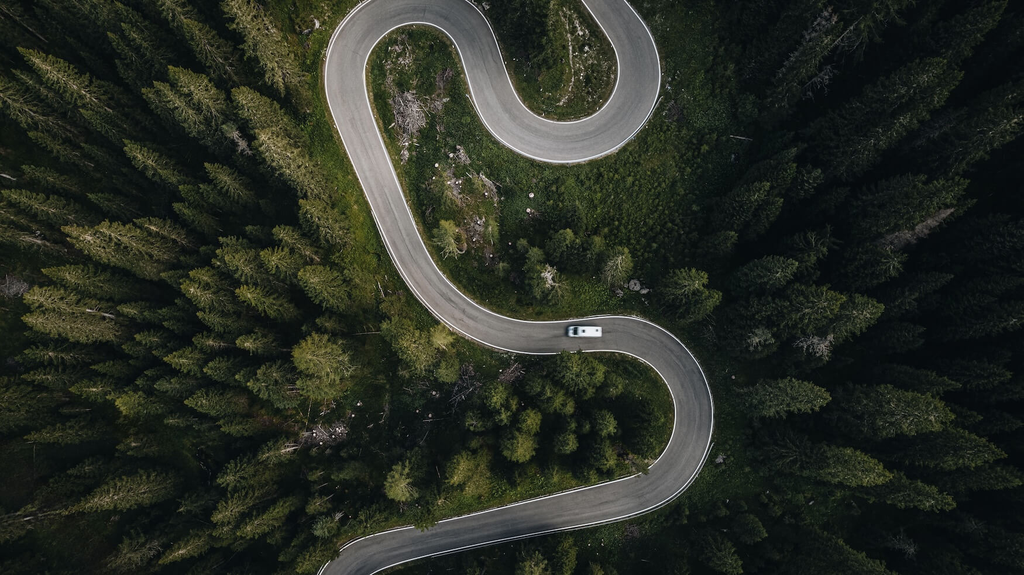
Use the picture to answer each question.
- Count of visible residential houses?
0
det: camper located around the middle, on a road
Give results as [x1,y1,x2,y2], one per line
[566,325,602,339]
